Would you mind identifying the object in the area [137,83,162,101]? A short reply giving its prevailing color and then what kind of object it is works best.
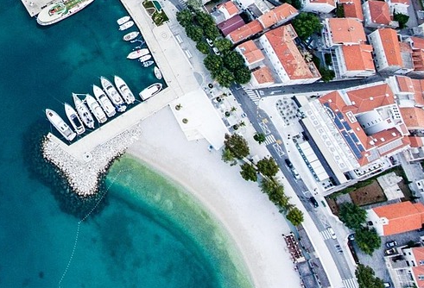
white boat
